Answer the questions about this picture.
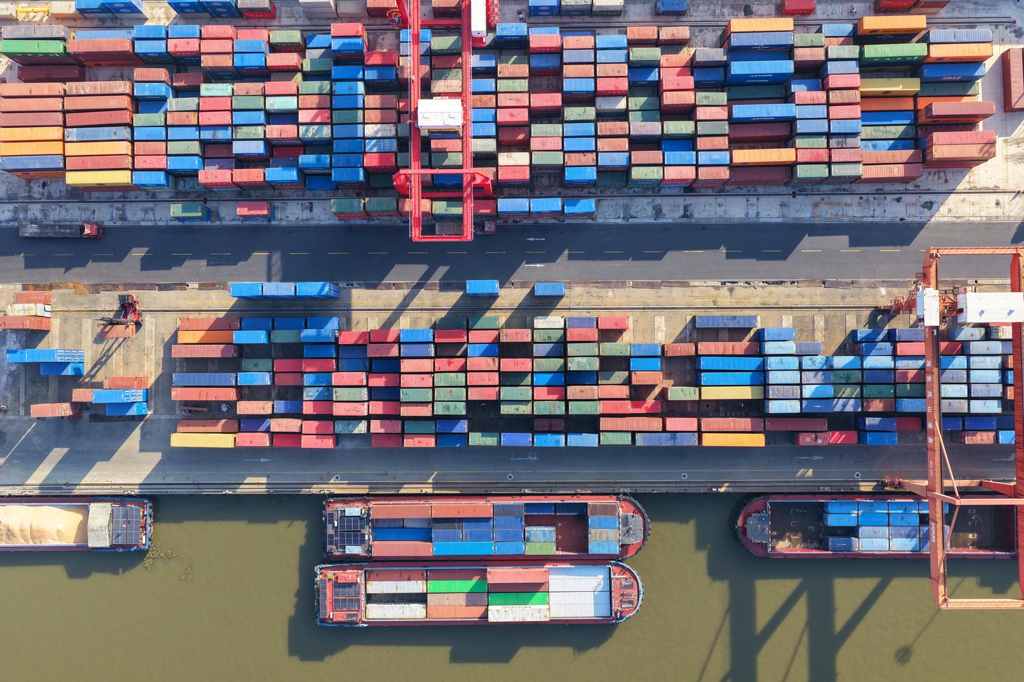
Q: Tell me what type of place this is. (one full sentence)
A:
The area seen from above is a port.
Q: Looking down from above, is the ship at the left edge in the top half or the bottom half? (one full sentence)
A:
Seen from above, the ship at the left edge lies in the bottom half of the view.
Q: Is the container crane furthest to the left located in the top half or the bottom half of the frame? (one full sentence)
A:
You can find the container crane furthest to the left in the top half.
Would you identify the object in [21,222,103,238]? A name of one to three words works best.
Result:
vehicle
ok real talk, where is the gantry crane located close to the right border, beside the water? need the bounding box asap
[875,245,1024,609]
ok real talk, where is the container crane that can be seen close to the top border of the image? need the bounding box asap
[388,0,499,242]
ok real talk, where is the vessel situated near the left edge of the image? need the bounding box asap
[0,499,156,552]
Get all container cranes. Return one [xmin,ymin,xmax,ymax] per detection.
[388,0,499,242]
[875,245,1024,609]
